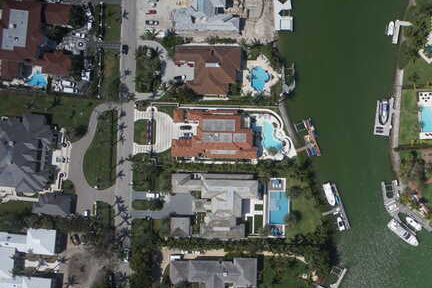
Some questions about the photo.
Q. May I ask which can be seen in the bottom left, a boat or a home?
home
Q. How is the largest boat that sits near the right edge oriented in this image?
diagonally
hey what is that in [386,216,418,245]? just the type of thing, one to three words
boat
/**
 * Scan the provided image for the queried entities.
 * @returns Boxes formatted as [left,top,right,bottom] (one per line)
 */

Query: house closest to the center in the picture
[172,109,257,163]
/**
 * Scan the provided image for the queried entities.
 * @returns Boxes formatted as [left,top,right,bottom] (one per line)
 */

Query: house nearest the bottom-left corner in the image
[0,230,61,288]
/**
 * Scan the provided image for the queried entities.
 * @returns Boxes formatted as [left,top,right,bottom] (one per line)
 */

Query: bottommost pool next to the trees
[265,178,289,238]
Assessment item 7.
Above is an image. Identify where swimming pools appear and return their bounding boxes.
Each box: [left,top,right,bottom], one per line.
[249,65,272,92]
[421,105,432,133]
[24,77,50,88]
[265,178,289,238]
[257,117,292,155]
